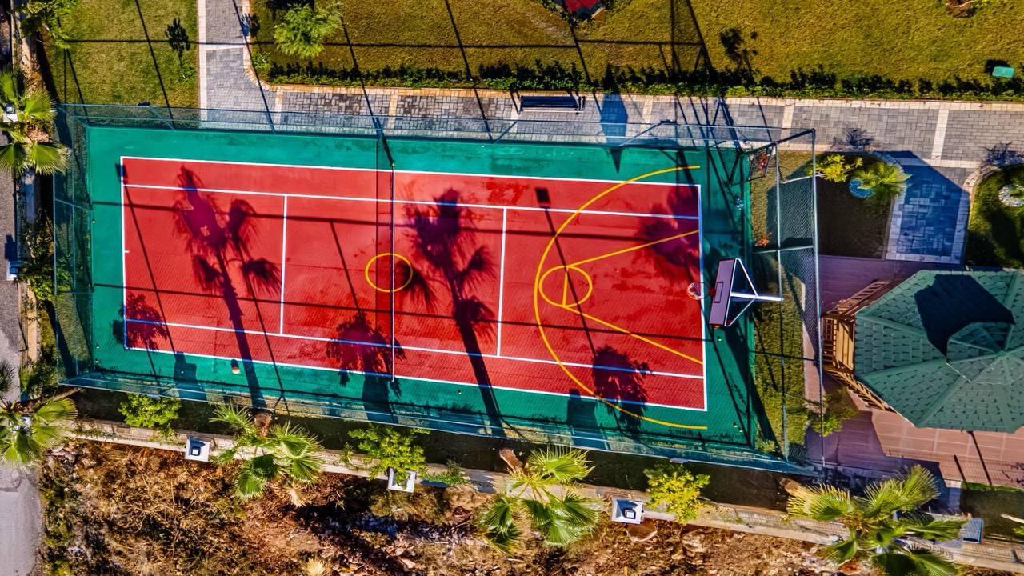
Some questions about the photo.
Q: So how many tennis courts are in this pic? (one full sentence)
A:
In total, 1 tennis court can be seen.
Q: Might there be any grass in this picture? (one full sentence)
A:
Yes, the picture does contain grass.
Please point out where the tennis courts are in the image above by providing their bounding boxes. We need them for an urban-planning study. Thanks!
[91,129,757,451]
